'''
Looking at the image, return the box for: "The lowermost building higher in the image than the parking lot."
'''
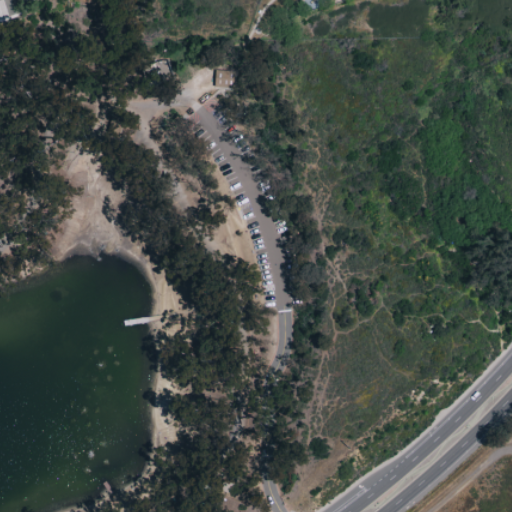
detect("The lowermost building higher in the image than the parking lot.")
[216,69,236,87]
